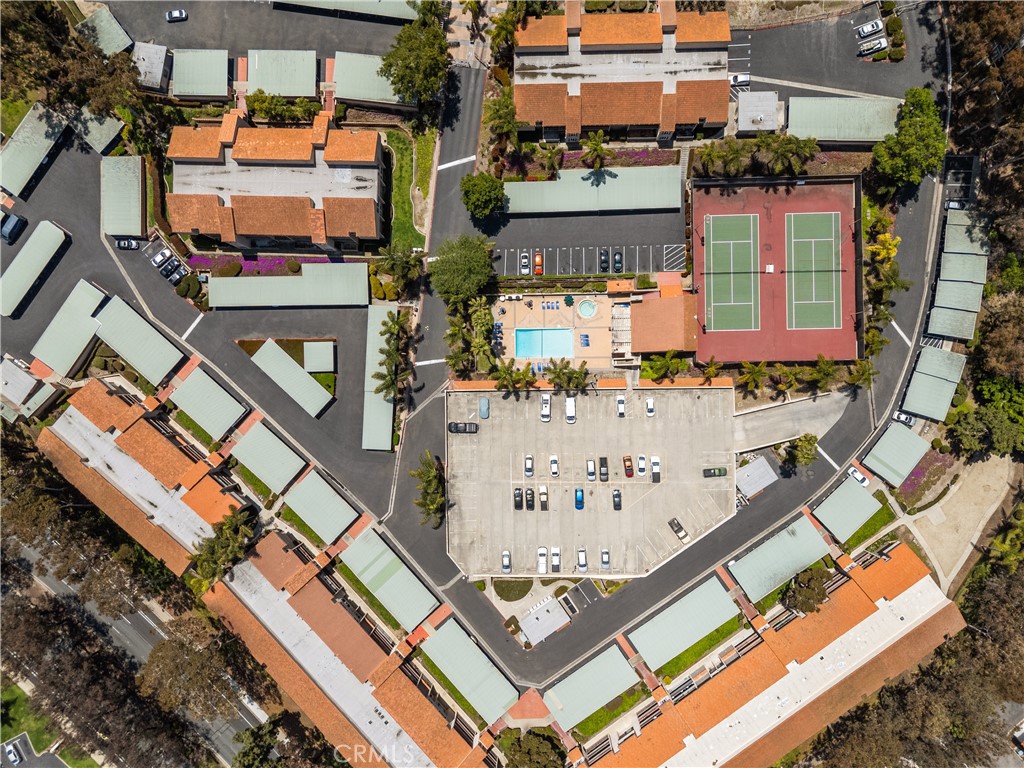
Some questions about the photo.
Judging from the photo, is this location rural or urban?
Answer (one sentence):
The area is urban.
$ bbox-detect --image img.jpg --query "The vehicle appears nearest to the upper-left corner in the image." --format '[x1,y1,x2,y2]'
[166,10,189,22]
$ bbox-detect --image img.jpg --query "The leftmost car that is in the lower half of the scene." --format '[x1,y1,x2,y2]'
[5,742,23,764]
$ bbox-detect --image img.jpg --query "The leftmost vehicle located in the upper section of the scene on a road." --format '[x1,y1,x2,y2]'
[0,215,25,244]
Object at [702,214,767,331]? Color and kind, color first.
green tennis court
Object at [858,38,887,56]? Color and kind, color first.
white vehicle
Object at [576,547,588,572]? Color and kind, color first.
white vehicle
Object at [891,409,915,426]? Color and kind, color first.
white car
